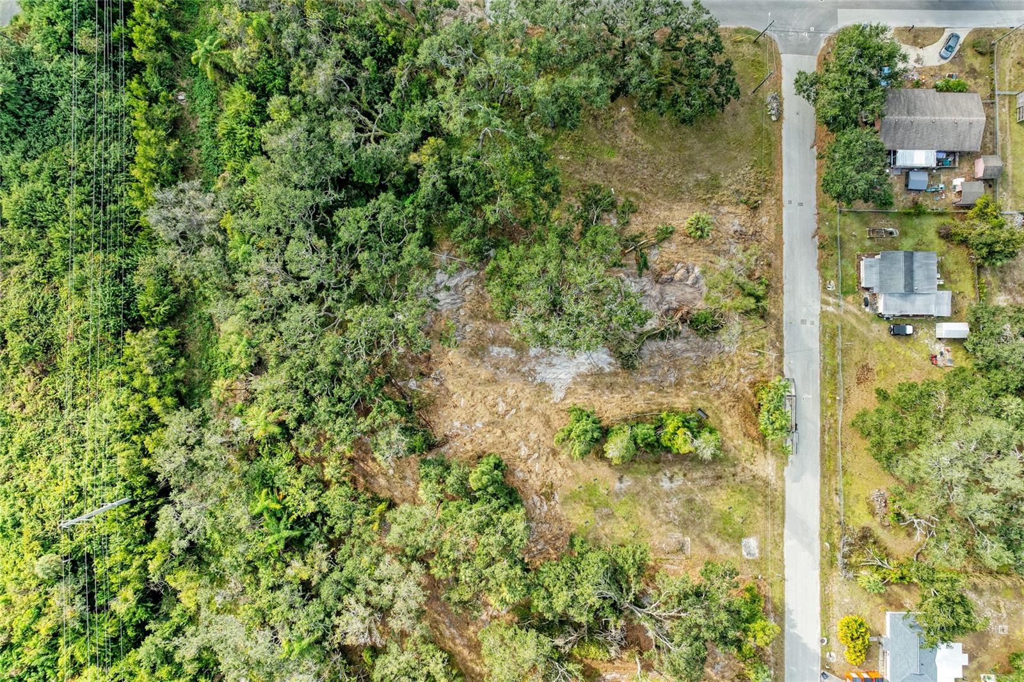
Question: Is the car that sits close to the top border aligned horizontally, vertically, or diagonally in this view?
diagonally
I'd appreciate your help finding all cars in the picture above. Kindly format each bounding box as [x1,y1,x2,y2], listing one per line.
[892,323,916,336]
[941,30,966,59]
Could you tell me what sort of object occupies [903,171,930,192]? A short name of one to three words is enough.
shed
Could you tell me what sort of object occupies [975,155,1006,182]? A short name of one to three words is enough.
shed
